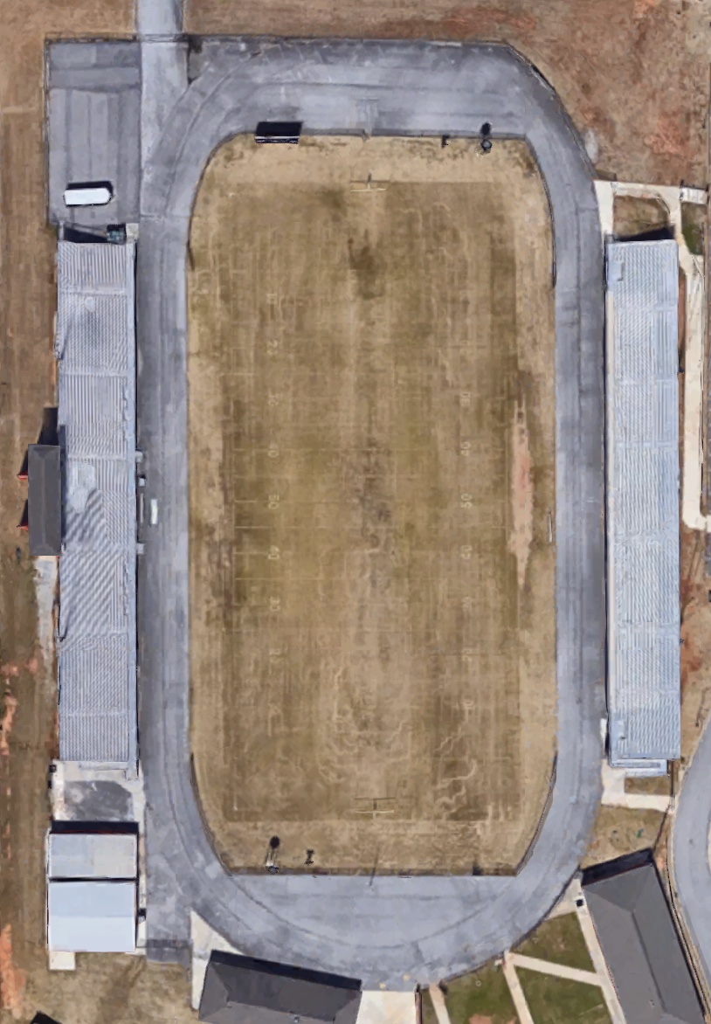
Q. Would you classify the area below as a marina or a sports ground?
sports ground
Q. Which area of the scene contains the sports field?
center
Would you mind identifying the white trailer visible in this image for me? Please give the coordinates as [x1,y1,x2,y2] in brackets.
[64,188,120,209]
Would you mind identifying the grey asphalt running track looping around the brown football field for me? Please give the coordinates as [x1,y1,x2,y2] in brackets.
[138,41,605,991]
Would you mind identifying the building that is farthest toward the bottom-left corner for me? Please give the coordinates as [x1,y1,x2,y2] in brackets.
[47,879,137,951]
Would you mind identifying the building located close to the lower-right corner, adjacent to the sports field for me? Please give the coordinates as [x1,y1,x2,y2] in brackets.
[581,862,705,1024]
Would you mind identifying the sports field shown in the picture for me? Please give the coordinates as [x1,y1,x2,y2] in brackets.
[188,134,556,875]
